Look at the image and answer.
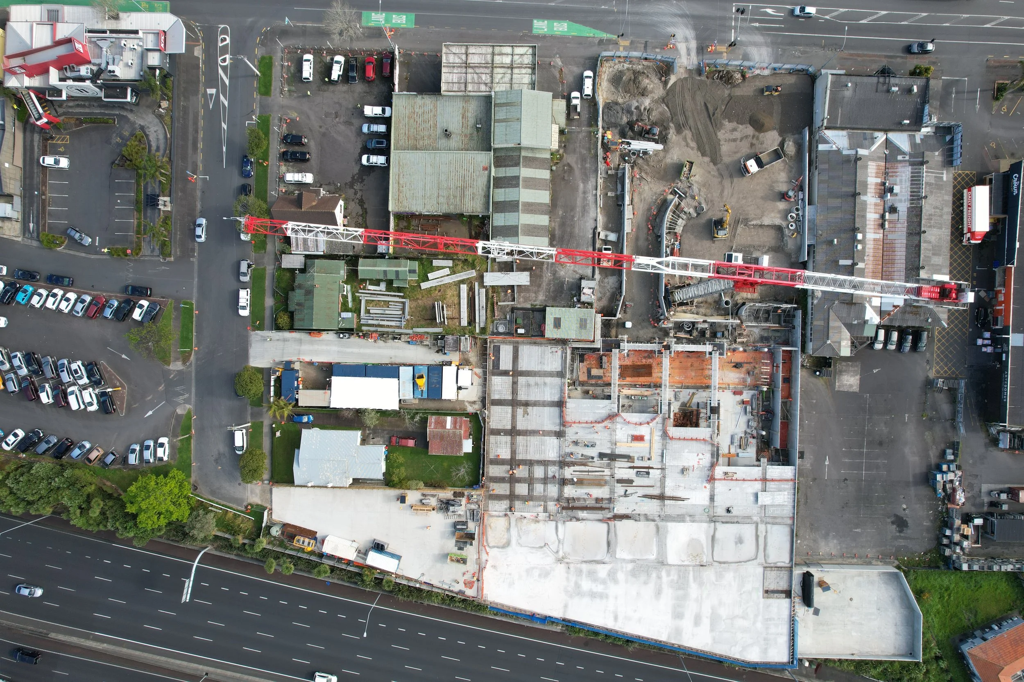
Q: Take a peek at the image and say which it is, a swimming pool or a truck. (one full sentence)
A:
Looking from above, you can make out a truck.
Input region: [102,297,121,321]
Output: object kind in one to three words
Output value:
car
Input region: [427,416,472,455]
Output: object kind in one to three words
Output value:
shed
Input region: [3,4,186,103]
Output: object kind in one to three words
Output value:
building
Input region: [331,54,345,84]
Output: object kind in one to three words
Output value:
vehicle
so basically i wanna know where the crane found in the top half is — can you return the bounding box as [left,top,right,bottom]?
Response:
[230,216,985,312]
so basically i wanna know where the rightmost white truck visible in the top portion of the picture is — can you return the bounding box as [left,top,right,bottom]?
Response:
[962,185,990,245]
